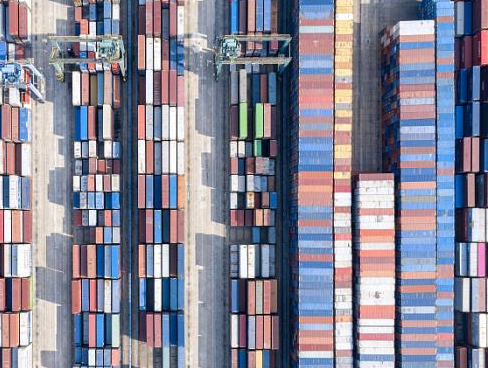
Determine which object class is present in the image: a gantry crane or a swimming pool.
gantry crane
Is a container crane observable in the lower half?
No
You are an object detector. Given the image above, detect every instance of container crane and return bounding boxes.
[215,34,297,81]
[0,58,44,103]
[49,32,128,81]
